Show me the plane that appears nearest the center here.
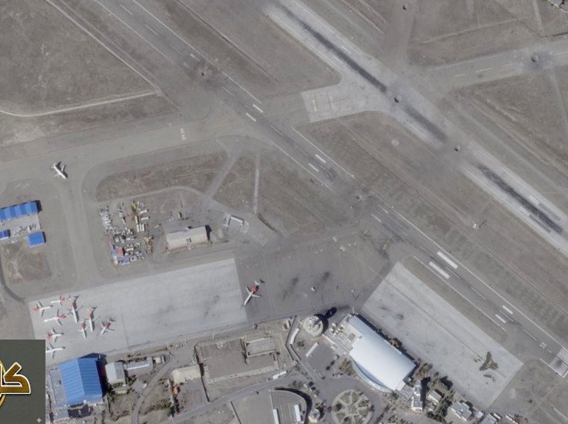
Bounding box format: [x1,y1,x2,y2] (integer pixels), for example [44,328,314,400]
[244,282,260,306]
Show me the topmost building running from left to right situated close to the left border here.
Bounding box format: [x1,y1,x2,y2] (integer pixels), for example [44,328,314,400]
[0,203,40,222]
